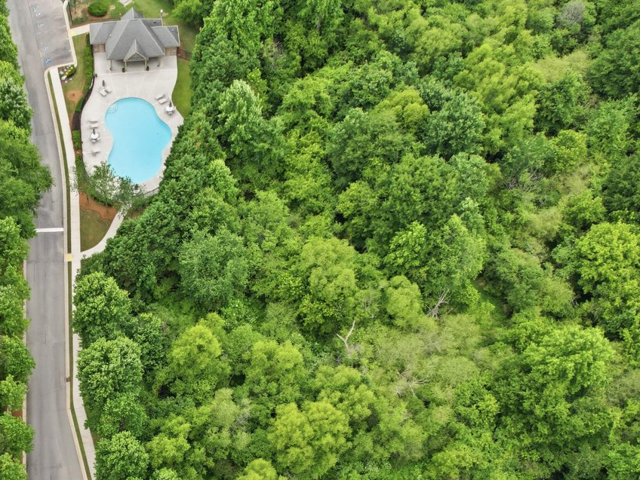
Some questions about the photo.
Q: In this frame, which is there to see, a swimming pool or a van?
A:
swimming pool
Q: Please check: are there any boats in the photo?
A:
No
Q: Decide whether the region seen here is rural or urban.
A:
rural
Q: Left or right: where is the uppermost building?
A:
left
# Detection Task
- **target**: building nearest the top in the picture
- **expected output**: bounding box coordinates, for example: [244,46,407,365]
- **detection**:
[81,0,180,74]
